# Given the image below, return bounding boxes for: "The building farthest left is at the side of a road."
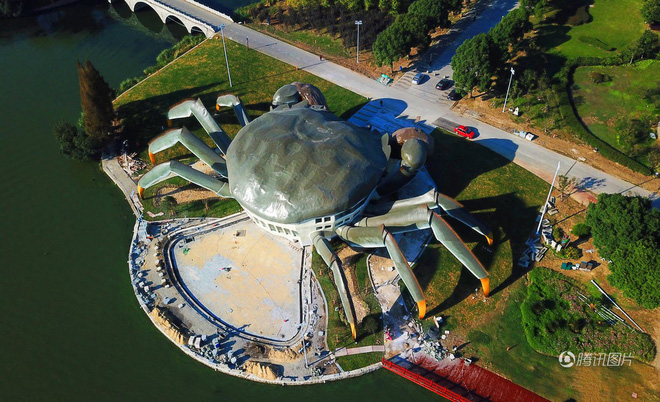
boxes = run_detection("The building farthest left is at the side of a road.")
[136,76,495,338]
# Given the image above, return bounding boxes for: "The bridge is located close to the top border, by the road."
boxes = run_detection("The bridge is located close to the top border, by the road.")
[113,0,249,41]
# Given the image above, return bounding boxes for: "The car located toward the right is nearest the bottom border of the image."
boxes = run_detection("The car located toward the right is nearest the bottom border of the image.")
[454,122,476,138]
